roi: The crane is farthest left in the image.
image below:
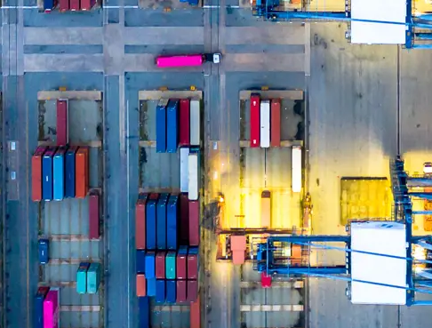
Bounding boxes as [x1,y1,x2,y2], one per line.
[209,193,317,264]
